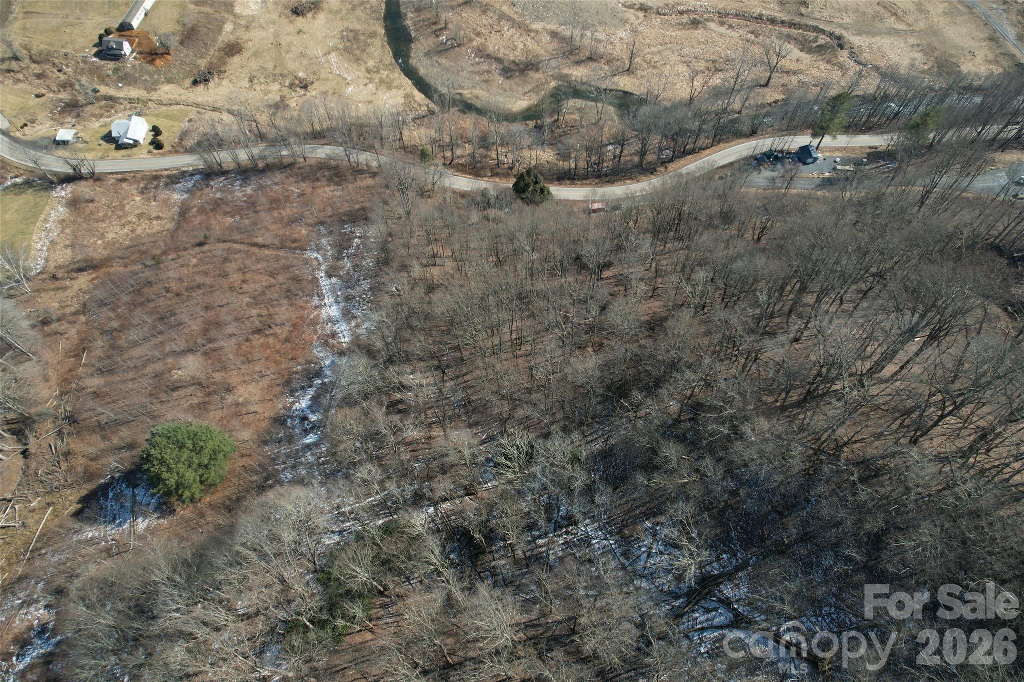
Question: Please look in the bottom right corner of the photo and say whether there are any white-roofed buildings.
No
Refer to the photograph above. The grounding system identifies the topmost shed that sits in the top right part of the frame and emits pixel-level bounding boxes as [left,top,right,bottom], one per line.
[798,141,822,164]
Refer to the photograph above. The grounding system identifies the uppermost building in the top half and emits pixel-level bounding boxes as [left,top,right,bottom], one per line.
[122,0,156,30]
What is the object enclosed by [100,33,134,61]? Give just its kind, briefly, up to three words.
house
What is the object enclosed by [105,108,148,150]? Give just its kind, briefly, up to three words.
house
